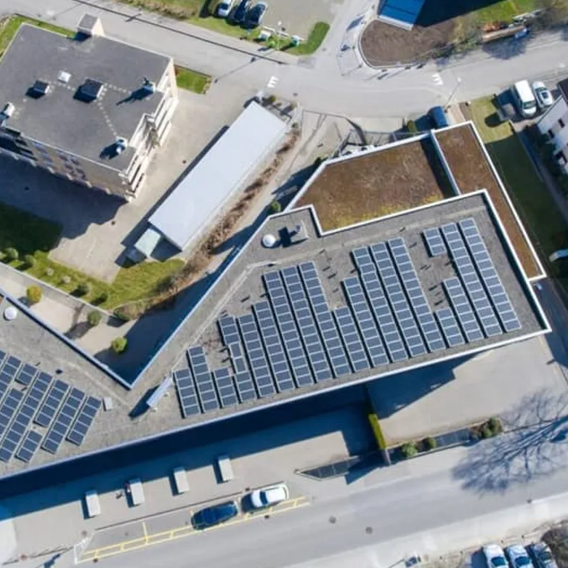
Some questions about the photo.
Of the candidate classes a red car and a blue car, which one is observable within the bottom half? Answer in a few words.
blue car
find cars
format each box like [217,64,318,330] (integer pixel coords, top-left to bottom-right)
[217,0,236,19]
[506,543,531,568]
[529,539,556,568]
[194,503,235,527]
[234,0,254,25]
[250,0,271,28]
[483,546,508,568]
[531,81,553,110]
[428,104,447,132]
[247,485,287,509]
